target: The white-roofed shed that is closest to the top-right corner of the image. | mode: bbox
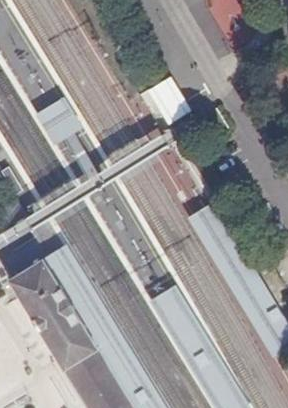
[142,76,190,126]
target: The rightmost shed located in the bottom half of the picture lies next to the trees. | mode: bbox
[188,206,288,356]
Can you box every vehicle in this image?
[273,204,284,223]
[216,156,238,173]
